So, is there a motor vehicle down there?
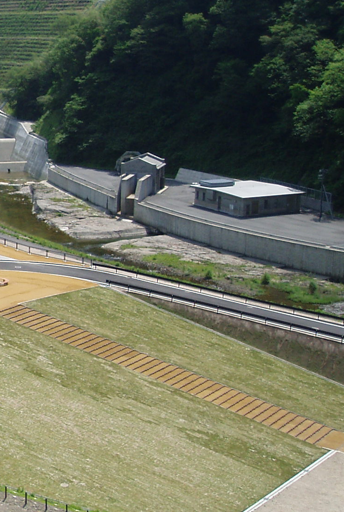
No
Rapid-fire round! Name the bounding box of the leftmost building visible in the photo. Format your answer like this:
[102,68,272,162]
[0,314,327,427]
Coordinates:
[107,152,170,229]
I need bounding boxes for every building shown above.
[188,181,311,217]
[107,152,170,229]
